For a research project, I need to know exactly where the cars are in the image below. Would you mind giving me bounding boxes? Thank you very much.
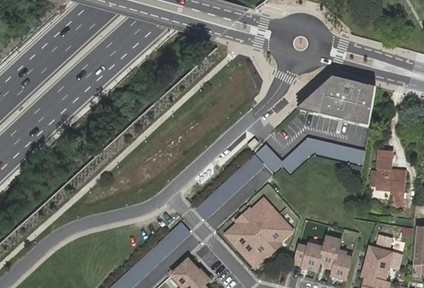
[156,217,165,227]
[20,77,30,86]
[162,210,172,222]
[29,126,40,136]
[262,111,272,120]
[280,130,288,140]
[320,58,331,64]
[219,148,229,158]
[18,67,28,78]
[341,123,347,134]
[140,229,147,240]
[60,26,70,36]
[222,276,233,285]
[210,260,222,270]
[129,236,136,246]
[214,264,226,274]
[148,224,154,234]
[306,114,312,126]
[226,280,237,288]
[76,70,87,80]
[219,270,229,279]
[292,266,298,278]
[94,66,104,76]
